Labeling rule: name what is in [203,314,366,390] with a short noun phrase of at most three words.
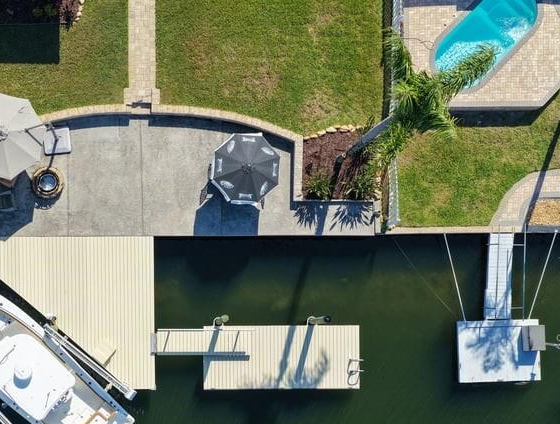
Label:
pier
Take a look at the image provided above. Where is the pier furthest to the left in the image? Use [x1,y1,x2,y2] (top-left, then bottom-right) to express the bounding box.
[0,238,154,389]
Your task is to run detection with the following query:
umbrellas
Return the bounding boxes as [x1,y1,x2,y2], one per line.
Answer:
[210,134,280,203]
[0,94,71,180]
